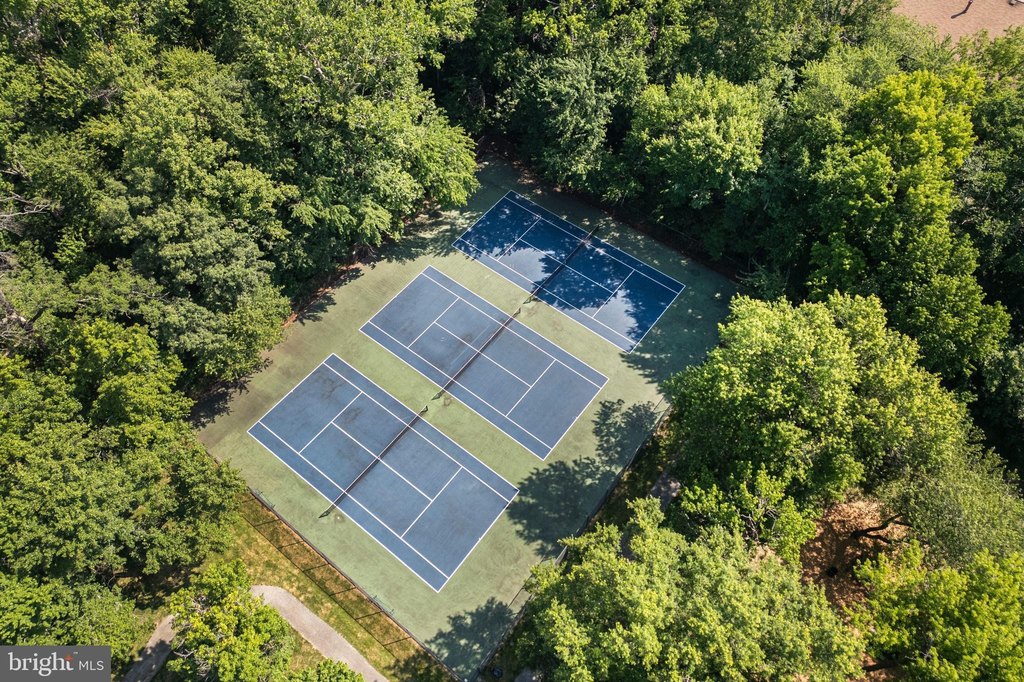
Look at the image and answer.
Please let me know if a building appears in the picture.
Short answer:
No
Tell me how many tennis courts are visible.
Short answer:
3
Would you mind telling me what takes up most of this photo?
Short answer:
trees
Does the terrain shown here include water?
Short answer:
No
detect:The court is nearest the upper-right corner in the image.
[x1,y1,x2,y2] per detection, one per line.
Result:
[453,191,683,352]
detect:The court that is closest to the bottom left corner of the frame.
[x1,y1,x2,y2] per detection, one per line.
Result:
[248,354,518,590]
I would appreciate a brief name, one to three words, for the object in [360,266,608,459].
tennis court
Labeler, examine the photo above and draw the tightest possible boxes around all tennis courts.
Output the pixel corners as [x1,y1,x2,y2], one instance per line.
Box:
[453,191,683,352]
[248,354,518,590]
[360,266,608,459]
